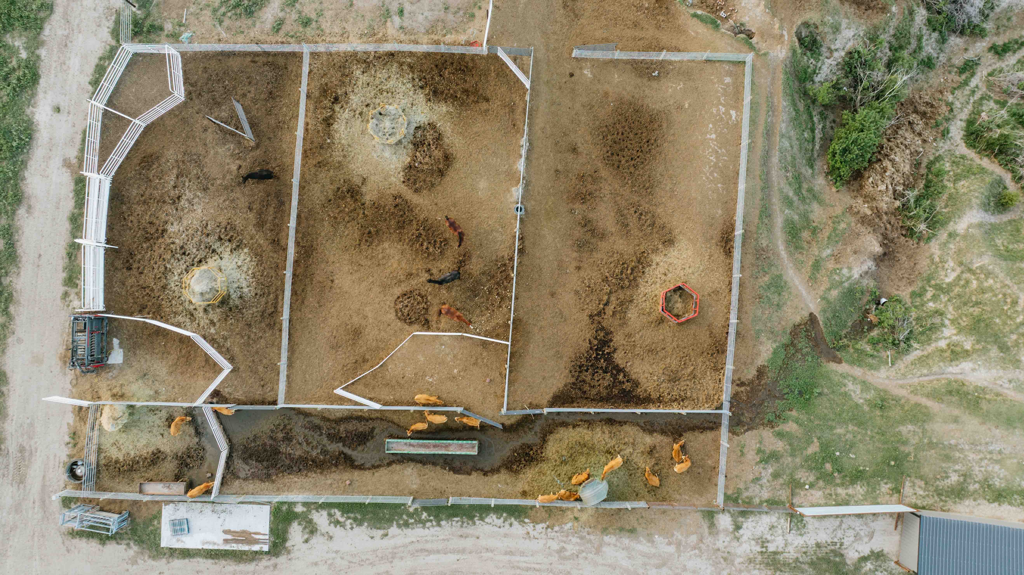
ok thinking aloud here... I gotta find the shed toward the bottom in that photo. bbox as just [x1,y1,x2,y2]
[898,510,1024,575]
